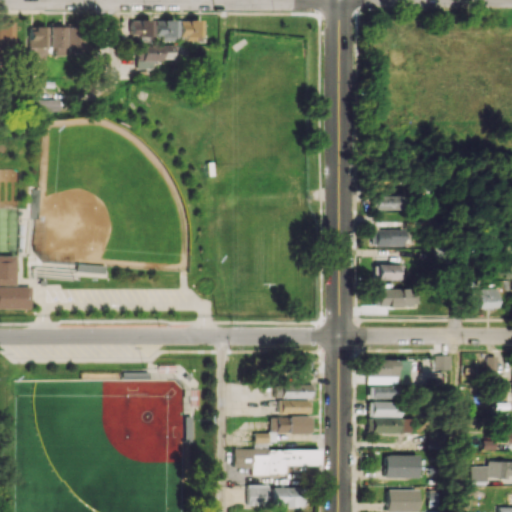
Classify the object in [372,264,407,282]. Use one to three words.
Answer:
house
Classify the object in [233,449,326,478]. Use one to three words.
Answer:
building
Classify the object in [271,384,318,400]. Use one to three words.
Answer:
house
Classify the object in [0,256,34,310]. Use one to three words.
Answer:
building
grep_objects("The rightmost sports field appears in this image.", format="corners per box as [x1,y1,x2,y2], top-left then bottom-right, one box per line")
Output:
[228,34,308,317]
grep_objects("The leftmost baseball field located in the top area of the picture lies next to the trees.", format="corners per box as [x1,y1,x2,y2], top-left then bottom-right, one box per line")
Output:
[34,117,188,268]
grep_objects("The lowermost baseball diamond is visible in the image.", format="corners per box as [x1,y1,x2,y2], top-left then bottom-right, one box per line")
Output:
[16,381,184,512]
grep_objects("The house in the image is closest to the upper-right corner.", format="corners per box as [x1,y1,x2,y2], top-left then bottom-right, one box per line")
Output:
[374,196,405,212]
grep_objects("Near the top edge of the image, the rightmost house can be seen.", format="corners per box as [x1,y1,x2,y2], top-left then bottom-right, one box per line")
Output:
[180,20,207,43]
